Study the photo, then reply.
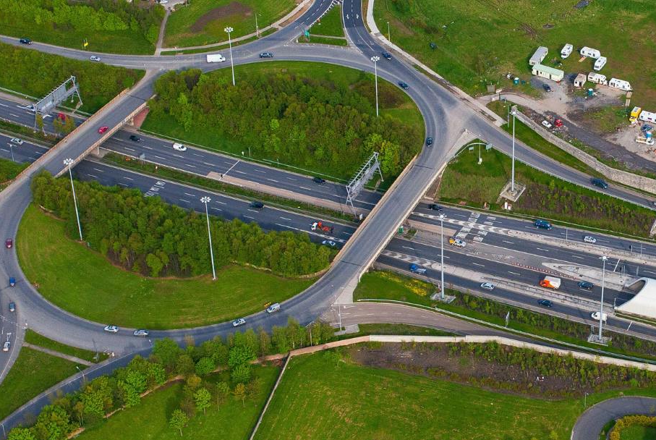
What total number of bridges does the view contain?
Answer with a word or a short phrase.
two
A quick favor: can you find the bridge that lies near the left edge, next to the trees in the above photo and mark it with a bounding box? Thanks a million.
[17,87,156,181]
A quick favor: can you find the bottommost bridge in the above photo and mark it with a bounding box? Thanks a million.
[331,153,448,278]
